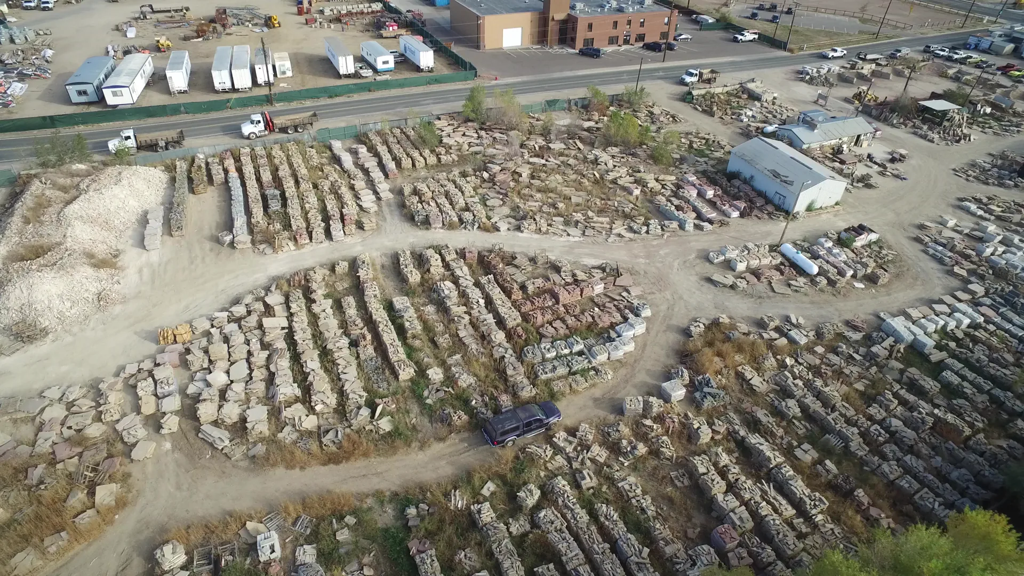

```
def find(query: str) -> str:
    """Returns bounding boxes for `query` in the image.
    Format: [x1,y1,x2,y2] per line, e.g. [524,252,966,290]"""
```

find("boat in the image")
[356,60,371,73]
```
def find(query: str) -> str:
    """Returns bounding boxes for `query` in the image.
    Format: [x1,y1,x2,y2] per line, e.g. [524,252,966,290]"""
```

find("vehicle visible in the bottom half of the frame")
[483,400,566,447]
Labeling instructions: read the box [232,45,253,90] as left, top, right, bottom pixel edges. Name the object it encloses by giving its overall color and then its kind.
white trailer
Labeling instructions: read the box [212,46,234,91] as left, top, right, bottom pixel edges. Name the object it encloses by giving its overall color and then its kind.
white trailer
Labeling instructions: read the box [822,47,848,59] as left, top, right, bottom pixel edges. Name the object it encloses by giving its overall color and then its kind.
white vehicle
